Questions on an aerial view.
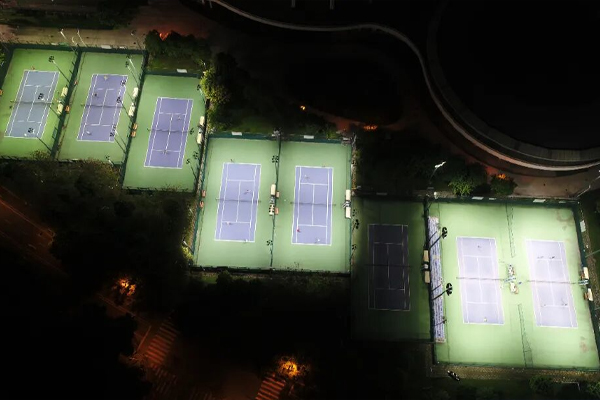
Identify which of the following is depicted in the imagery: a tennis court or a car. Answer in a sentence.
Looking from above, you can make out a tennis court.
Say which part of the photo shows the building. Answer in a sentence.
The building is located in the top right region of the scene.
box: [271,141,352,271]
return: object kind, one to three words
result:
tennis court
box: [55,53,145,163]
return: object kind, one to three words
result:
tennis court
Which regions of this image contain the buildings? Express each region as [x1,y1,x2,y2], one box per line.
[429,0,600,158]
